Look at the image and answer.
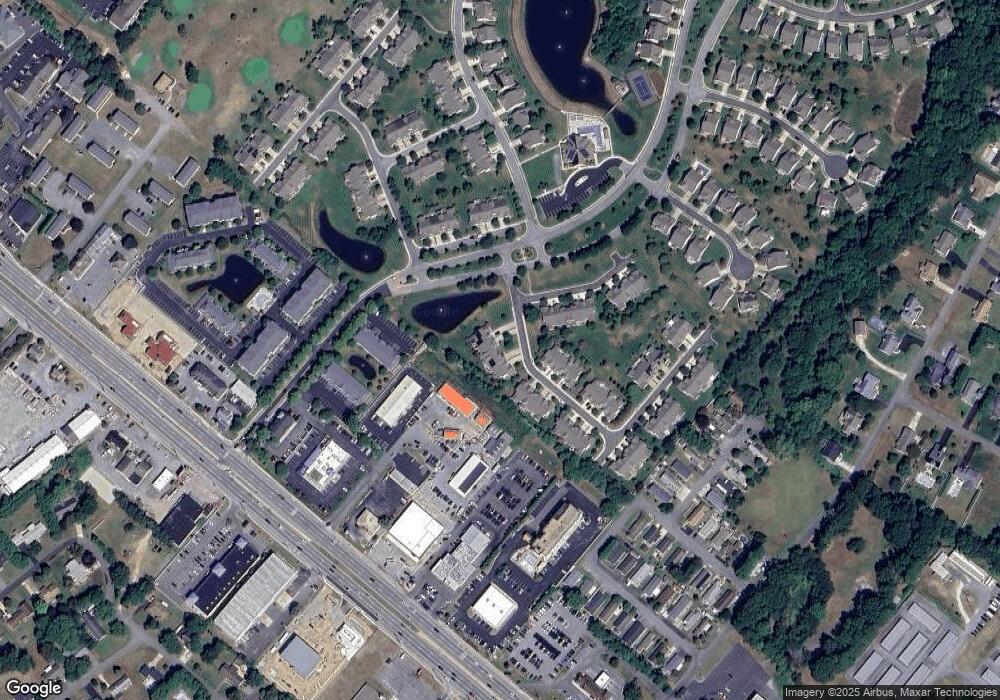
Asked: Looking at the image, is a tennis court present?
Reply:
Yes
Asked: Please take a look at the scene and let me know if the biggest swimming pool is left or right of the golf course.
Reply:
right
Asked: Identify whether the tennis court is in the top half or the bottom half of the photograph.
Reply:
top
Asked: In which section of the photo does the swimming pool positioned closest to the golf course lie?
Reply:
left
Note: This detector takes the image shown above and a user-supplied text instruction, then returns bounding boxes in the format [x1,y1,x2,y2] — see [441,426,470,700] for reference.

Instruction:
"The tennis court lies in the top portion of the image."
[624,68,659,108]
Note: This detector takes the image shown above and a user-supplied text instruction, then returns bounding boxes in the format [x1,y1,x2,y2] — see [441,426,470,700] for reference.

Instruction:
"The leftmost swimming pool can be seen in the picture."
[246,288,276,311]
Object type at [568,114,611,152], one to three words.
swimming pool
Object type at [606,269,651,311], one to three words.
house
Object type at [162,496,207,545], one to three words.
building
